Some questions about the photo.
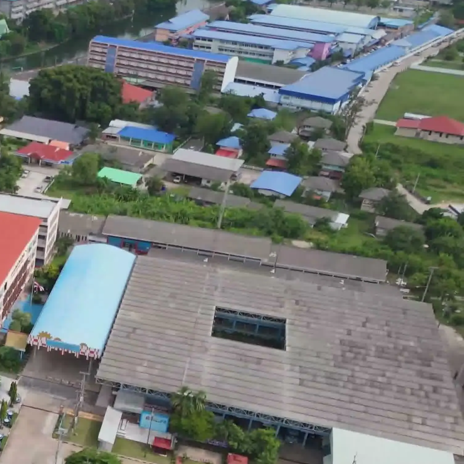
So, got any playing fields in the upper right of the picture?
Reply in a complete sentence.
Yes, looking in the upper right of the picture, one can make out a playing field.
